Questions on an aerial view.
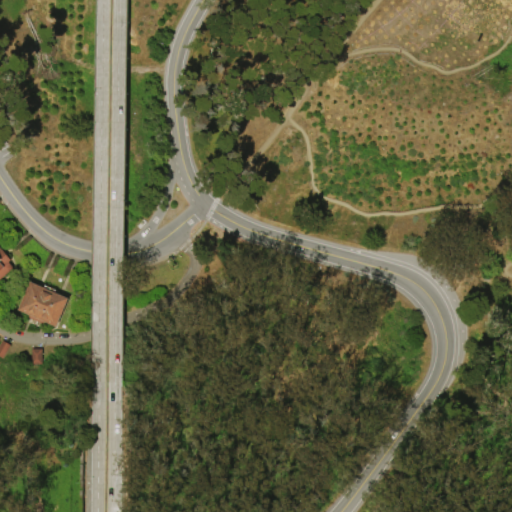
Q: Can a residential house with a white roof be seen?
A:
No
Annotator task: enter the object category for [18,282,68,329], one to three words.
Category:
house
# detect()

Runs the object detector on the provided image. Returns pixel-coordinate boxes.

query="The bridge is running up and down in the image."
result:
[92,0,128,388]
